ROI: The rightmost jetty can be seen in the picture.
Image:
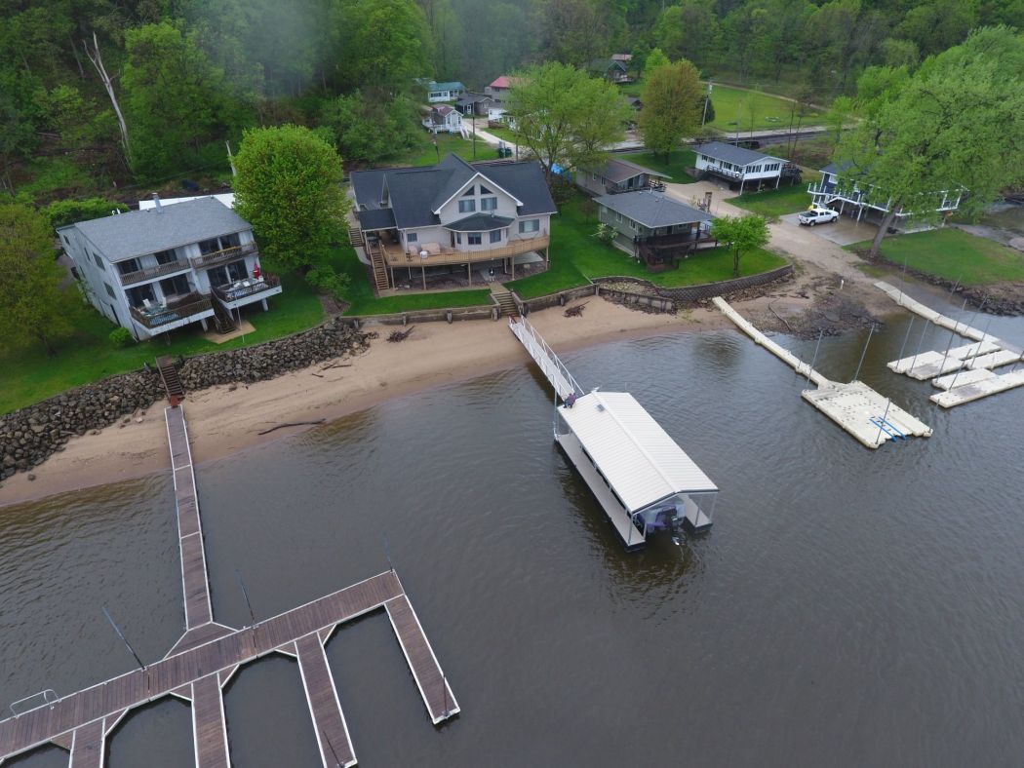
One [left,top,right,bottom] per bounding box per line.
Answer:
[877,285,1024,366]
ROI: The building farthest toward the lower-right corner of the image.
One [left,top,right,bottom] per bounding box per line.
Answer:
[554,382,722,552]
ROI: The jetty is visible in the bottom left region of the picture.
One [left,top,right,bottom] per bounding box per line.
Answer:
[0,405,459,768]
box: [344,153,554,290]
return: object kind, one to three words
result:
house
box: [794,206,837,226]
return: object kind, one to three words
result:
vehicle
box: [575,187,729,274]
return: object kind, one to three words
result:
house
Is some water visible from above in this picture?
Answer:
Yes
